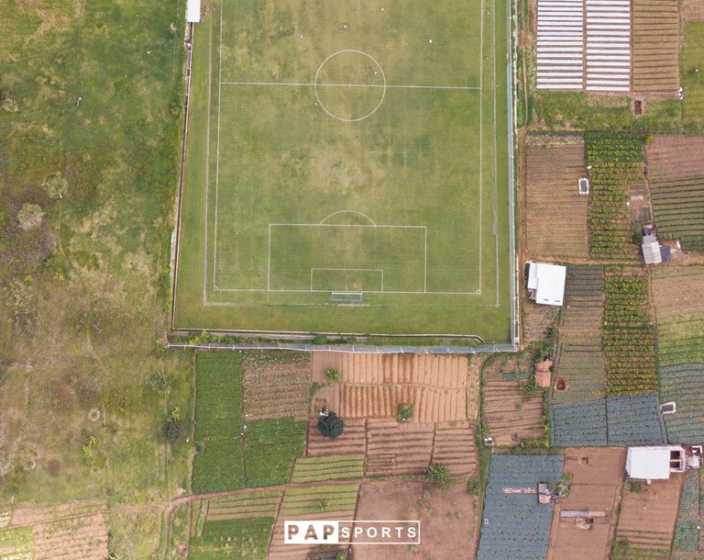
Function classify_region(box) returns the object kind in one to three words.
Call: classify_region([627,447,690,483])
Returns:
greenhouse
